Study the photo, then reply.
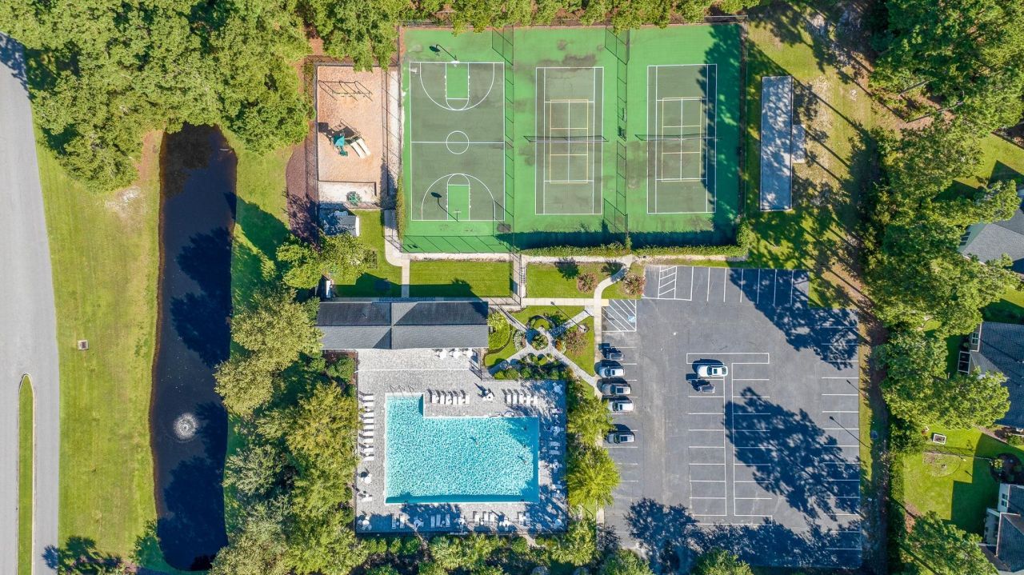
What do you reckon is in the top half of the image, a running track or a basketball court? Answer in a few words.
basketball court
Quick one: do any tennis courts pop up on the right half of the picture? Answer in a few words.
Yes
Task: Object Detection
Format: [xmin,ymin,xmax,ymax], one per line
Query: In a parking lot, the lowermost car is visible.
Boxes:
[607,433,637,447]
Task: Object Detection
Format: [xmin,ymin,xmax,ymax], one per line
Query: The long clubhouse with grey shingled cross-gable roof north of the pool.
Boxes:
[317,300,488,351]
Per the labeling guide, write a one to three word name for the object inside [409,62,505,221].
basketball court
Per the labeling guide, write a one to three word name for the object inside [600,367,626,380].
vehicle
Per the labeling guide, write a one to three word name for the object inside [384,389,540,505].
swimming pool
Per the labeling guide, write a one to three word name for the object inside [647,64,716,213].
tennis court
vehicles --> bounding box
[600,367,626,380]
[608,400,637,415]
[698,365,729,379]
[607,433,637,447]
[602,383,633,398]
[700,386,718,395]
[608,353,625,362]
